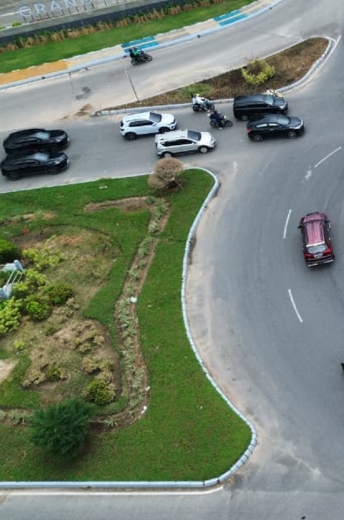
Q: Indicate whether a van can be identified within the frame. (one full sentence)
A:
Yes, this view includes a van.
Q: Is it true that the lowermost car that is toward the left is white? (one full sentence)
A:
No, from above the lowermost car that is toward the left looks black.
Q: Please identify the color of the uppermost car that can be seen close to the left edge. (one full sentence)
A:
The uppermost car that can be seen close to the left edge looks black in the image.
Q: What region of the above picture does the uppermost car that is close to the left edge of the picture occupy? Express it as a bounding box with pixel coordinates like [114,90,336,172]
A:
[0,124,68,152]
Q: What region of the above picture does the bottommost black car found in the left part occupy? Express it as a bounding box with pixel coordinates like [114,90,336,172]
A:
[0,148,67,180]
